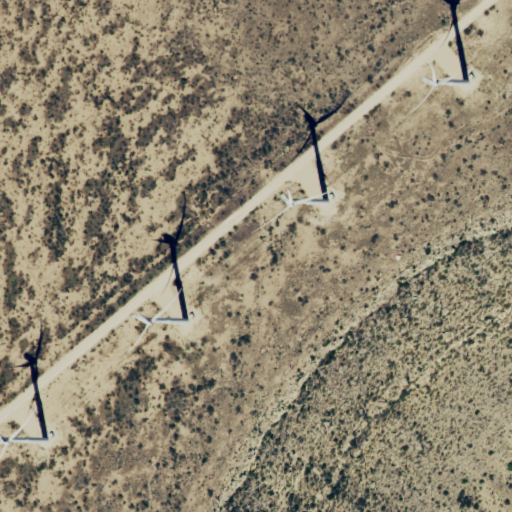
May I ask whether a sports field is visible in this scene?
No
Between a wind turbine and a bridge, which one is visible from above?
wind turbine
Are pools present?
No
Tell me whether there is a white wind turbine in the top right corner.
Yes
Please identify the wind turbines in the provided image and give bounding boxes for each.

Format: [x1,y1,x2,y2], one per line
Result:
[0,415,51,465]
[256,188,332,230]
[408,54,471,122]
[131,294,192,355]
